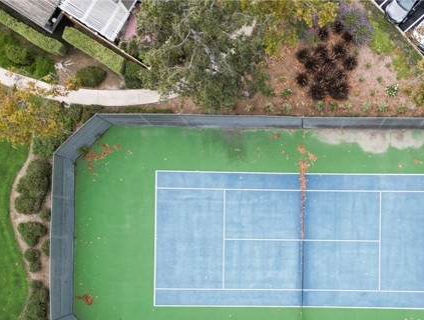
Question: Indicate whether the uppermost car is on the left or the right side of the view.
right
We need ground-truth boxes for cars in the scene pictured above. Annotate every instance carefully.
[385,0,424,24]
[410,16,424,52]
